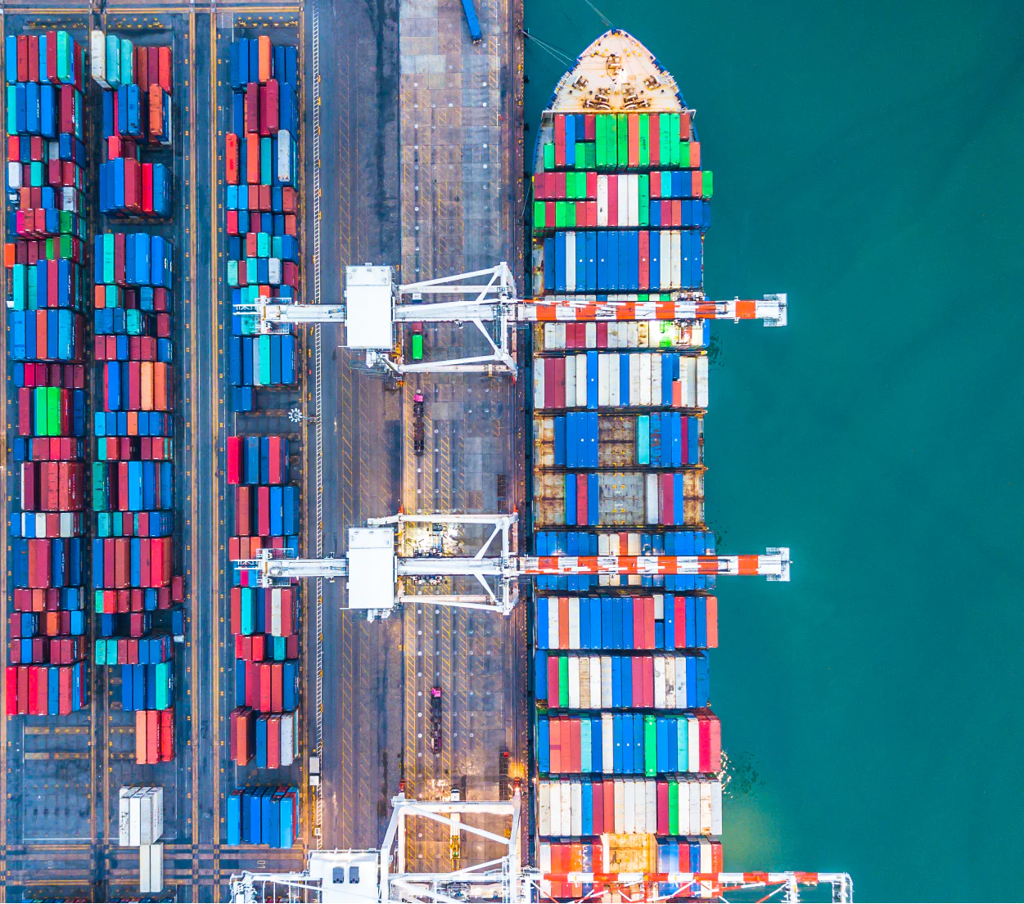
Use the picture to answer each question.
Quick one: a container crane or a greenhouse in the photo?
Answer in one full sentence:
The one in the frame is a container crane.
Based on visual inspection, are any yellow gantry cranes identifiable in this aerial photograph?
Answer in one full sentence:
No, no yellow gantry crane can be seen from above.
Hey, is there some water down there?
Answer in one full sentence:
Yes, water can be seen from above here.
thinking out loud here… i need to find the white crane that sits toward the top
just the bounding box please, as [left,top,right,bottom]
[231,260,784,397]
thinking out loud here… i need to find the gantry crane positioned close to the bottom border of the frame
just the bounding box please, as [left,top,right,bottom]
[235,781,855,904]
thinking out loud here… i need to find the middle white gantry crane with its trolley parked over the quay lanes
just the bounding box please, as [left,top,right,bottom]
[233,506,787,634]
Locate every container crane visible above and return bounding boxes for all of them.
[235,781,855,904]
[233,506,787,634]
[231,260,784,397]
